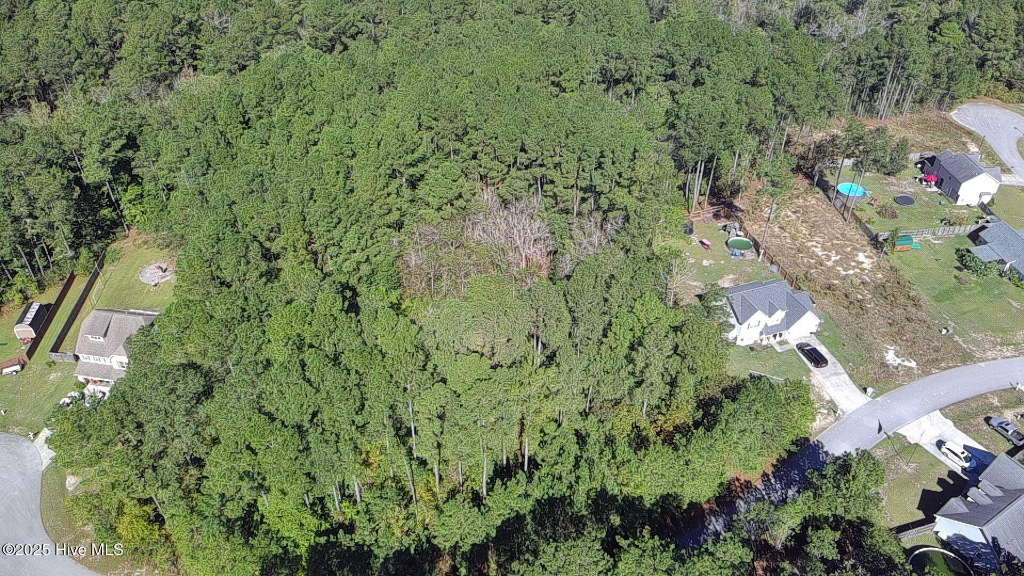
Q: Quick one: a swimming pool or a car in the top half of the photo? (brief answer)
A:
swimming pool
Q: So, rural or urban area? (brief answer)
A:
rural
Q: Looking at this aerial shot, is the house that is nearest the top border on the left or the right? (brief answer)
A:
right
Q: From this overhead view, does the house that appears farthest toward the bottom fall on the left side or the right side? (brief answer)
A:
right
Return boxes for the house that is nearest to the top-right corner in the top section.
[926,148,1015,204]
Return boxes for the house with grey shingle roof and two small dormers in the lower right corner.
[926,445,1024,576]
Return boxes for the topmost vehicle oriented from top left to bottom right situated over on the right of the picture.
[797,343,832,369]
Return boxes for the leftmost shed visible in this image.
[4,301,47,341]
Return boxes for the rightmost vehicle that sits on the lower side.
[983,417,1024,451]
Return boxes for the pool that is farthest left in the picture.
[726,237,753,254]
